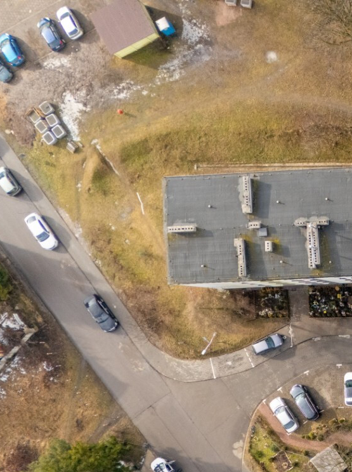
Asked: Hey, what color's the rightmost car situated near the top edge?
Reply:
white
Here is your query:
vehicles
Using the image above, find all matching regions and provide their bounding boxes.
[251,332,288,357]
[268,397,302,434]
[23,212,61,250]
[83,295,120,332]
[291,383,320,422]
[150,455,176,472]
[0,32,25,68]
[0,164,24,197]
[342,370,352,407]
[0,56,14,84]
[38,15,67,54]
[57,4,84,43]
